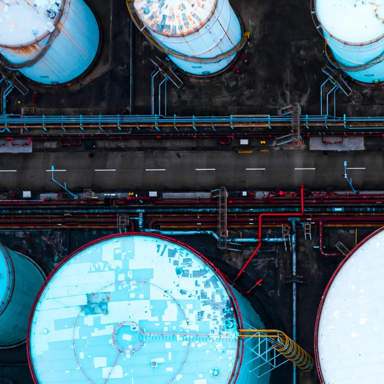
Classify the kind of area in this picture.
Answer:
industrial area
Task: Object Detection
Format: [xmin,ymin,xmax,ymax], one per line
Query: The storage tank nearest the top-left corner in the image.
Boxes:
[0,0,100,91]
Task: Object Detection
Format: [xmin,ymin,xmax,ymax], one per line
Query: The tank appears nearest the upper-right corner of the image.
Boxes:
[309,0,384,87]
